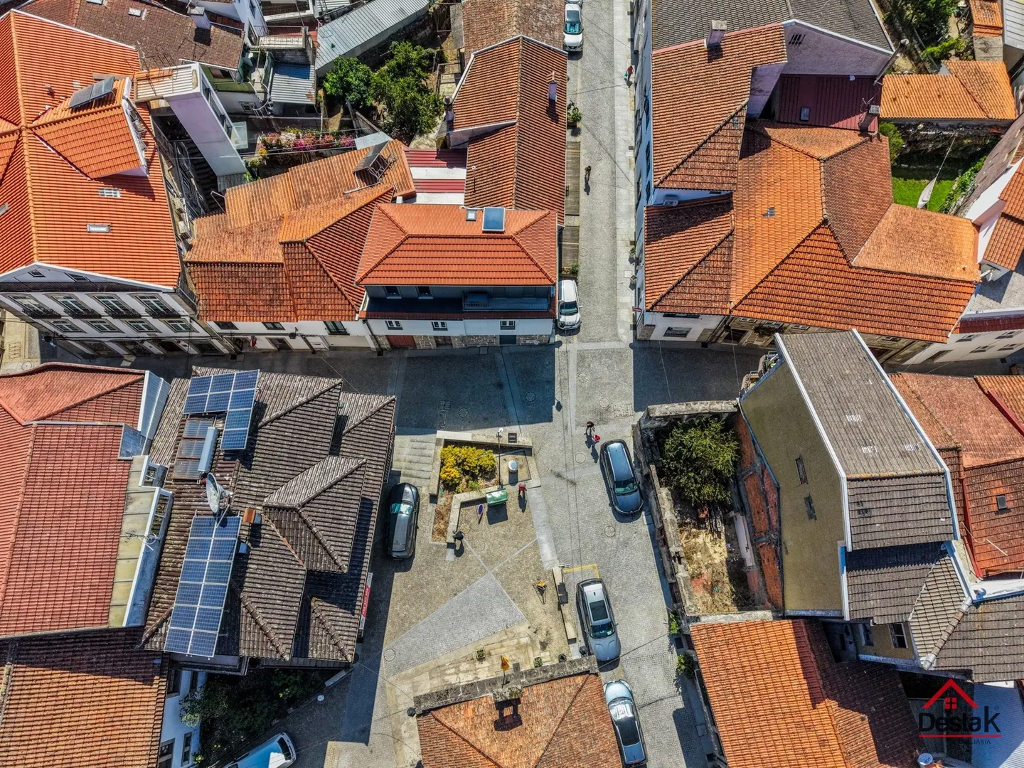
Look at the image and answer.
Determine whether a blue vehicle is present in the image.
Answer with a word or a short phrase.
Yes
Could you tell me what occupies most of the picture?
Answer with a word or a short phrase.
buildings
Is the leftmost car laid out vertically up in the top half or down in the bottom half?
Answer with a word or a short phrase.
bottom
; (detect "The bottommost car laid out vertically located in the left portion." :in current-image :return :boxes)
[386,483,423,559]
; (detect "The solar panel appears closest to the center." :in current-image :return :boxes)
[473,208,504,232]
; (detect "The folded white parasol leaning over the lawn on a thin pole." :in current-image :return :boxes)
[914,139,955,208]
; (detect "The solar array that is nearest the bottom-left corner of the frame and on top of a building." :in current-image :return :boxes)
[164,516,241,657]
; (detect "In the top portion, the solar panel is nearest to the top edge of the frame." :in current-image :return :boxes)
[70,77,115,111]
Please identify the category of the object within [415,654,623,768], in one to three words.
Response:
house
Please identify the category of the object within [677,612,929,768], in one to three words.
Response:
house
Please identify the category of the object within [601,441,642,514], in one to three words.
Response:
car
